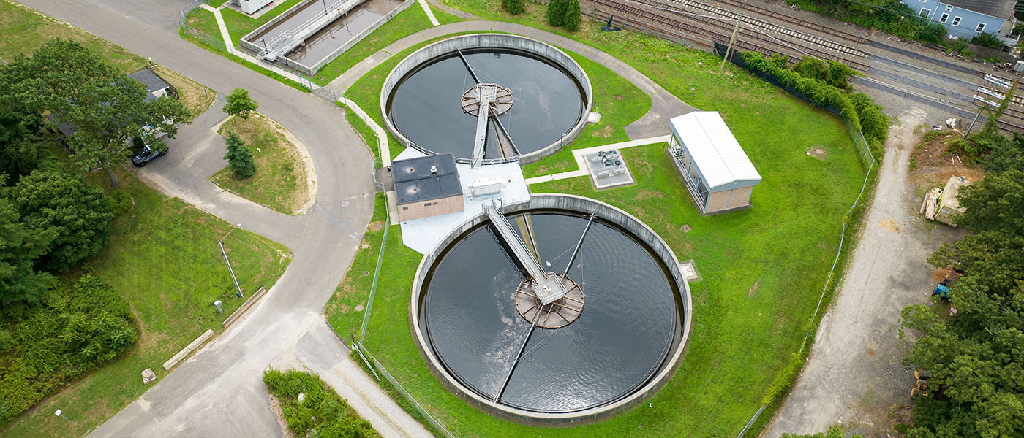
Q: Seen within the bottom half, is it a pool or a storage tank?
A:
storage tank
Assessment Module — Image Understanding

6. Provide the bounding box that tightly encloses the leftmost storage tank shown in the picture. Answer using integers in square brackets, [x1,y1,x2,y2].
[242,0,416,75]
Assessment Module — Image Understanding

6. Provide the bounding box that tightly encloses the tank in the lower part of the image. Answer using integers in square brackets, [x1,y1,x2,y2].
[412,193,692,425]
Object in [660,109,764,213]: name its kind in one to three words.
shed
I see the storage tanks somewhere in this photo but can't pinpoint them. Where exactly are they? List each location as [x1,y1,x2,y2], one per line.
[412,193,692,425]
[380,33,592,167]
[242,0,416,75]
